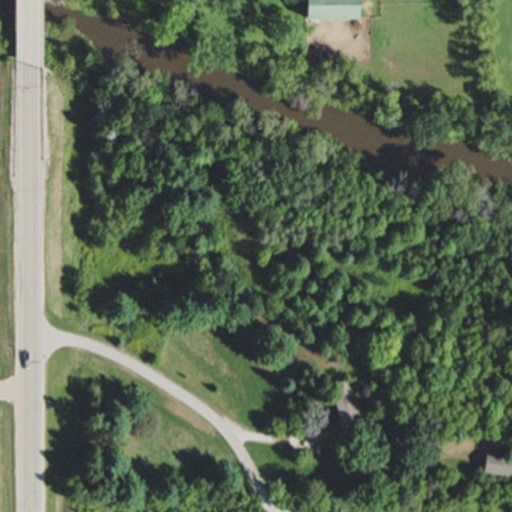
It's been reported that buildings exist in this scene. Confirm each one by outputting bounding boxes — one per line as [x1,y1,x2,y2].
[331,382,360,424]
[309,0,362,19]
[484,453,512,475]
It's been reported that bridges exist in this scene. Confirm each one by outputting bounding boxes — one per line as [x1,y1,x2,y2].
[16,0,48,69]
